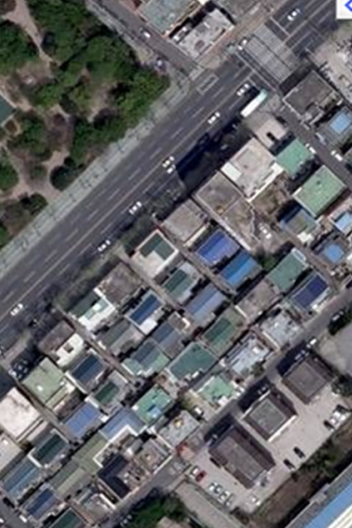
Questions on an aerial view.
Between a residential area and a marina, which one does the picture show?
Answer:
residential area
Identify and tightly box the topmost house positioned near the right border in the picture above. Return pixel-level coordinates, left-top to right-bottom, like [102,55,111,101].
[281,72,344,127]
